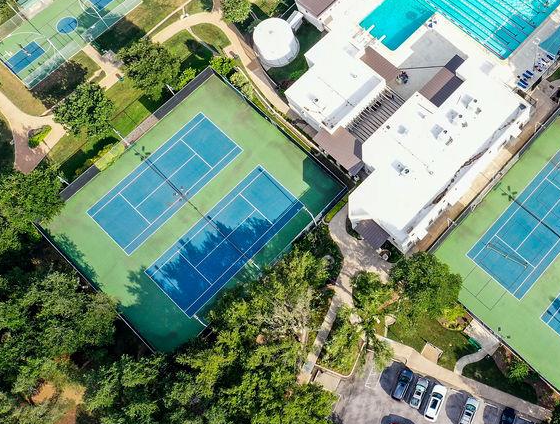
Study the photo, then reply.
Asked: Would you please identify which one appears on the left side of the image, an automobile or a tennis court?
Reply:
tennis court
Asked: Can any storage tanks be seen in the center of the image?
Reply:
No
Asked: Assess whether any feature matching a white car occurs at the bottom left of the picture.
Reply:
No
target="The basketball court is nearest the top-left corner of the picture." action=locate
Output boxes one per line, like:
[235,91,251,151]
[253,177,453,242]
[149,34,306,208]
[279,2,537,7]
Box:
[0,0,143,93]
